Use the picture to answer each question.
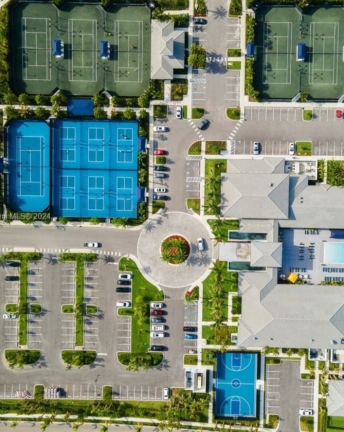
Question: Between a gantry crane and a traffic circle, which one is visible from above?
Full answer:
The image shows a traffic circle.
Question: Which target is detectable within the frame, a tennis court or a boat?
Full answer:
Looking from above, you can make out a tennis court.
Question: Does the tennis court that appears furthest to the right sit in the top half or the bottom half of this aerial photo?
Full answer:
The tennis court that appears furthest to the right sits in the top half of the picture.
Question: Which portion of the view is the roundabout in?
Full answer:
You can find the roundabout in the center area of the picture.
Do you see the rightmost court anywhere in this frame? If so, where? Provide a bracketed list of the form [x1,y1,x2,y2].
[301,5,344,98]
